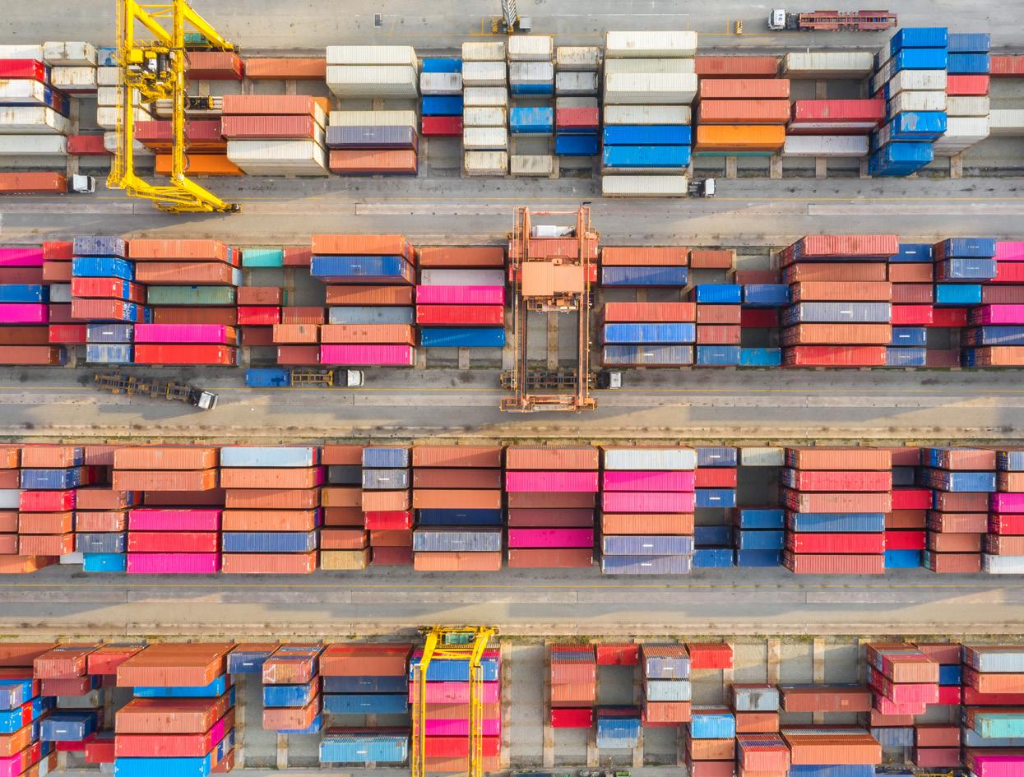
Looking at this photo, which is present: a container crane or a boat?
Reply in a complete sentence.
The one in the frame is a container crane.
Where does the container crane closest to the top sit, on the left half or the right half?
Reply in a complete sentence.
The container crane closest to the top is on the left side of the image.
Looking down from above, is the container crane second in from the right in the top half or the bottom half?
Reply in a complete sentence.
Seen from above, the container crane second in from the right lies in the bottom half of the view.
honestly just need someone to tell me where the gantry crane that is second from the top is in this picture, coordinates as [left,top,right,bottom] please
[498,199,596,414]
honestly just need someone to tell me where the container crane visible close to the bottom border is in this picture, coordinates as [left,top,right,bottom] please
[412,625,501,777]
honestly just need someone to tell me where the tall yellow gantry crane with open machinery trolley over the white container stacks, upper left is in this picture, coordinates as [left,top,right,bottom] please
[105,0,244,214]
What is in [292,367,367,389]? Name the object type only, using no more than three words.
truck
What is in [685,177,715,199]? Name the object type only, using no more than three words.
truck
